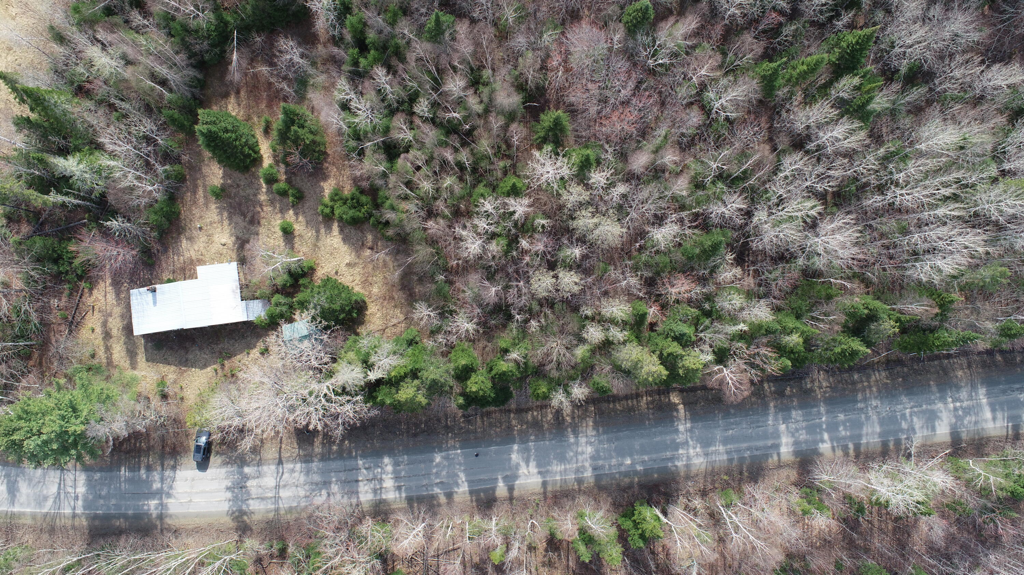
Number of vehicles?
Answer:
1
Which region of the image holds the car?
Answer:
bottom left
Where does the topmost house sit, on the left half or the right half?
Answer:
left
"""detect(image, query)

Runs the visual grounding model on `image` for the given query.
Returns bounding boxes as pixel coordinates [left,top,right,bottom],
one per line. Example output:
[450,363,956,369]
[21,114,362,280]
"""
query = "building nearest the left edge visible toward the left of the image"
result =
[130,262,270,335]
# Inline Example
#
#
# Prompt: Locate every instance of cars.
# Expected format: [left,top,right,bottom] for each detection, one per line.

[193,428,214,463]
